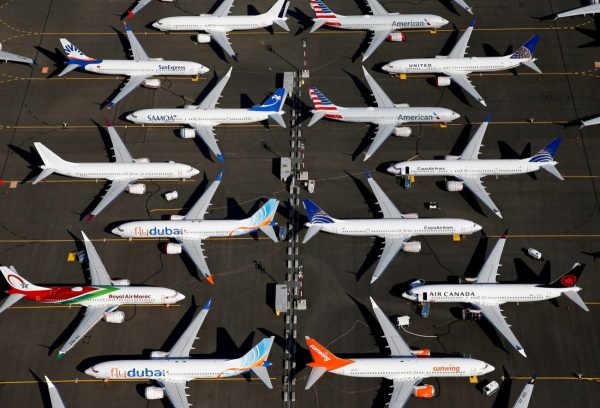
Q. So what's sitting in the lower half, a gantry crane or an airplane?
airplane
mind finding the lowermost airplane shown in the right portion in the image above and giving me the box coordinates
[515,373,536,408]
